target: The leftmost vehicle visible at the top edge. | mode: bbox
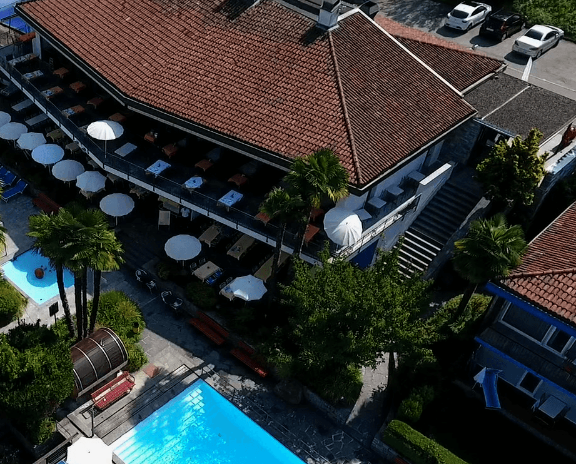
[443,6,492,36]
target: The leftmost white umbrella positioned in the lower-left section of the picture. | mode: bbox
[66,435,115,464]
